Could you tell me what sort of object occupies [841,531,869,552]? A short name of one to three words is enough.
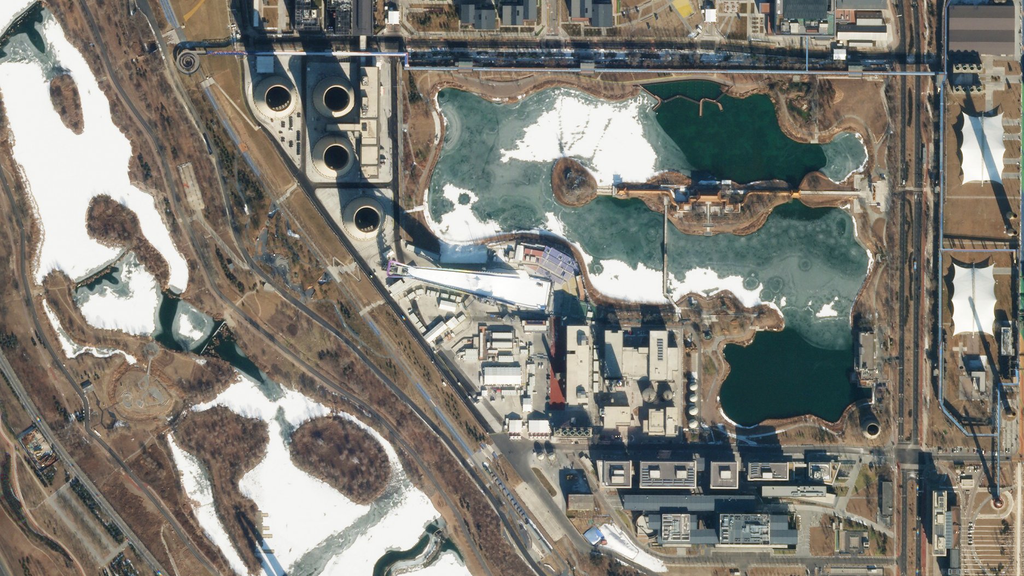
house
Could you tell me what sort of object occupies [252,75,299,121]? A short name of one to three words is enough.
cooling tower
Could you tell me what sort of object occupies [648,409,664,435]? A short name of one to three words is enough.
building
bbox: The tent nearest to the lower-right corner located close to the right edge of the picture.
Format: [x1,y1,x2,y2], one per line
[952,263,997,339]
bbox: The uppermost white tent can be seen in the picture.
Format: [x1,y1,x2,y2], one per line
[959,111,1006,187]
